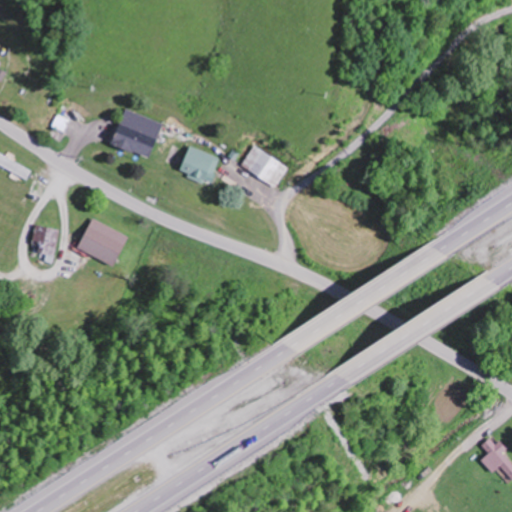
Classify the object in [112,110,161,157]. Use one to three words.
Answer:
house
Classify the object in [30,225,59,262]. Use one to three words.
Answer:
house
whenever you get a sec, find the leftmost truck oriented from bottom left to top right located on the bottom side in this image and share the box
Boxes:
[212,438,256,468]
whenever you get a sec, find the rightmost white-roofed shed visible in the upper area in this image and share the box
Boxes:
[239,140,290,192]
